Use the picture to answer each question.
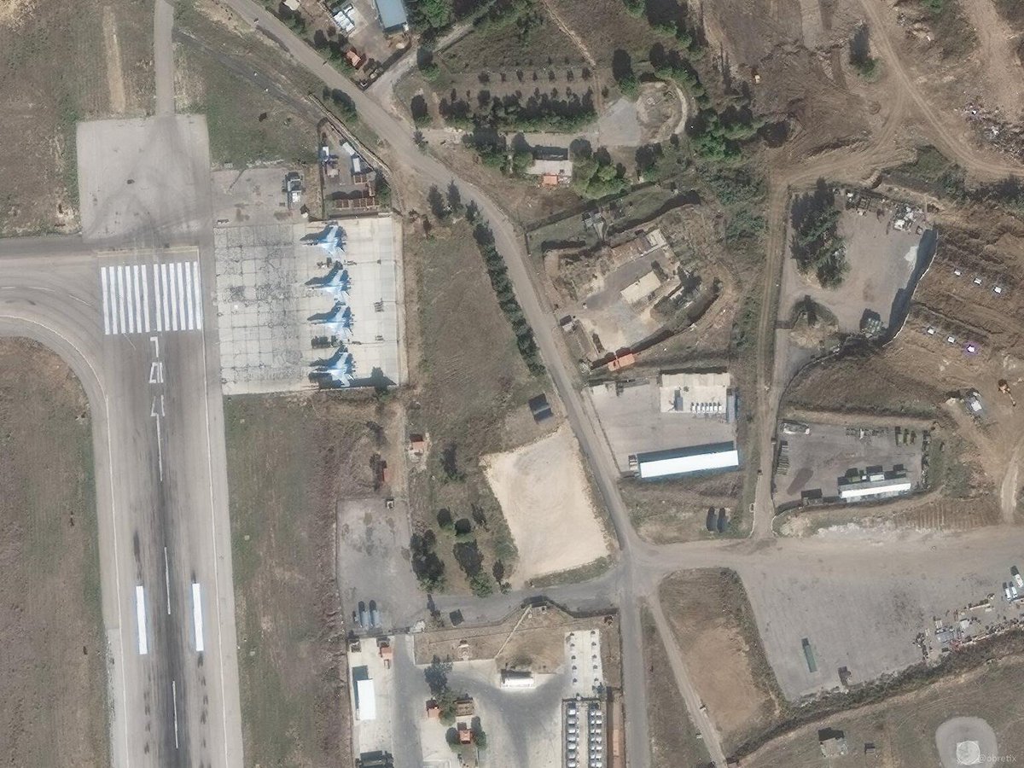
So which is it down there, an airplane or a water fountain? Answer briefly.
airplane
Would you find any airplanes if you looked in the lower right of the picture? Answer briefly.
No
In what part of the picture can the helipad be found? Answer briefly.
bottom right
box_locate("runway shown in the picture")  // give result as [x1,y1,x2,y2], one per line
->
[90,242,243,768]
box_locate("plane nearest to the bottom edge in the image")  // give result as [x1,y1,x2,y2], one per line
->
[309,354,359,387]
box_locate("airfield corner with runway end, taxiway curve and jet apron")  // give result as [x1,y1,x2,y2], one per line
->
[0,0,407,768]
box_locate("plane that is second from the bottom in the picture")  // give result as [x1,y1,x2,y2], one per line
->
[307,307,356,339]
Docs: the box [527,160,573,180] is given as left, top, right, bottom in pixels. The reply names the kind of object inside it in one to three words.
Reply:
house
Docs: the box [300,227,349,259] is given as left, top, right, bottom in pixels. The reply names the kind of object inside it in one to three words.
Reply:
airplane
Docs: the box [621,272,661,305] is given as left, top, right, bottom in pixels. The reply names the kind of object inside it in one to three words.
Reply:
building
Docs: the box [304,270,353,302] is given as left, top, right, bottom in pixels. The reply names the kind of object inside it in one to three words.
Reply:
airplane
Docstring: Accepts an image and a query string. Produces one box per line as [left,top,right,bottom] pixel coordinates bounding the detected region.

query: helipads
[936,717,998,768]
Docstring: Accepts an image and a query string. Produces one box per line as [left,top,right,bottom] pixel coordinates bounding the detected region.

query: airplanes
[309,354,359,387]
[300,227,349,259]
[304,270,353,302]
[307,307,356,339]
